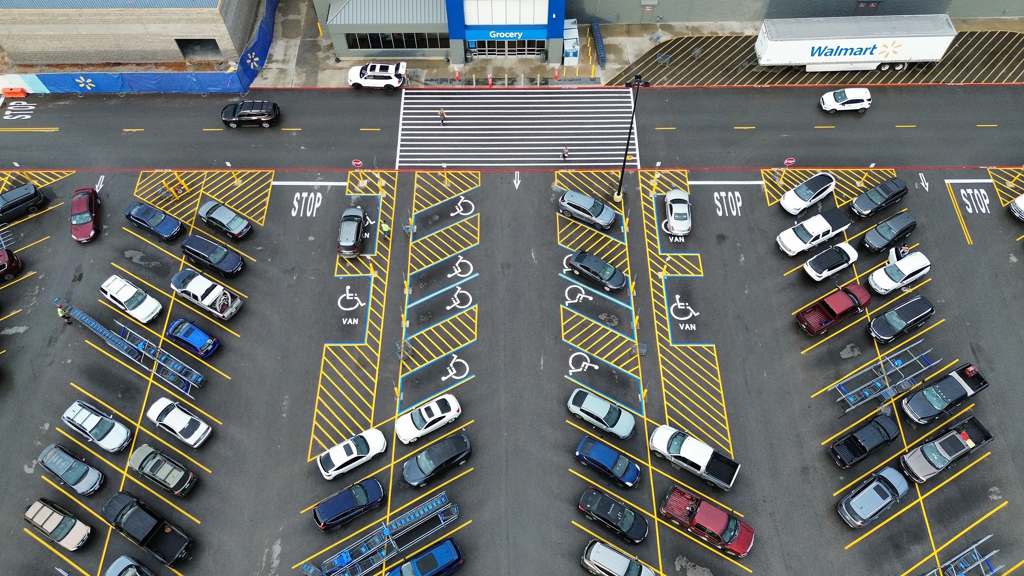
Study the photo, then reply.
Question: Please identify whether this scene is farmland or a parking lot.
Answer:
parking lot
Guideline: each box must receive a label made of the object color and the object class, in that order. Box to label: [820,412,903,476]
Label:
black truck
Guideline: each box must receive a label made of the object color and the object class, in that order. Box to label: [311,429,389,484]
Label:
white car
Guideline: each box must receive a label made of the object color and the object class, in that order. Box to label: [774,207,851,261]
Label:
white truck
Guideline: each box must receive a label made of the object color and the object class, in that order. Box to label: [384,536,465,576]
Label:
blue car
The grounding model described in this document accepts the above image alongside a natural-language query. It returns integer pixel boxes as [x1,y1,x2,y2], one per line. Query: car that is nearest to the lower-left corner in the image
[22,495,99,555]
